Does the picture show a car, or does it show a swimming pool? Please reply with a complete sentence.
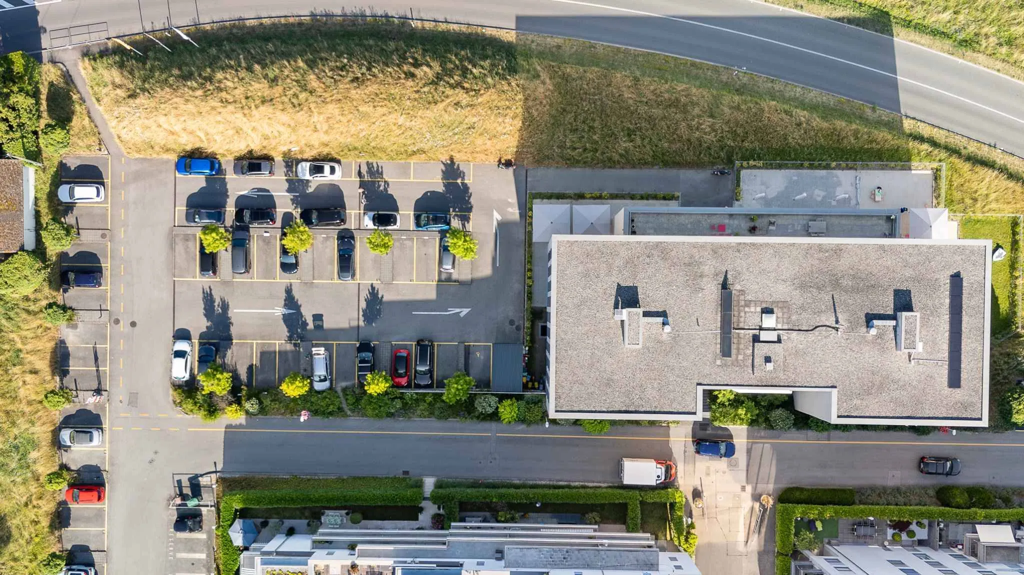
It is a car that can be seen here.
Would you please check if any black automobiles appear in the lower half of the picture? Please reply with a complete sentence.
Yes, there is a black automobile in the lower half of the picture.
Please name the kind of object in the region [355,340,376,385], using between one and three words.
car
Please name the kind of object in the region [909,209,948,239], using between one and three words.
umbrella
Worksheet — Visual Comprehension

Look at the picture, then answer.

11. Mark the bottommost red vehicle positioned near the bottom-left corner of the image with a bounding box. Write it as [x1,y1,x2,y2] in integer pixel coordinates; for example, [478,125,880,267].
[67,485,107,505]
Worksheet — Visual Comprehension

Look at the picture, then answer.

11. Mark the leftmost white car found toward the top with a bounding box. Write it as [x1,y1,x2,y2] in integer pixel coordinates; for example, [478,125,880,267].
[59,182,107,204]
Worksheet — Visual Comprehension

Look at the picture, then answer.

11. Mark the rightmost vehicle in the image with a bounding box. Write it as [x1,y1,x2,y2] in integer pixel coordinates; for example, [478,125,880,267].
[917,456,960,478]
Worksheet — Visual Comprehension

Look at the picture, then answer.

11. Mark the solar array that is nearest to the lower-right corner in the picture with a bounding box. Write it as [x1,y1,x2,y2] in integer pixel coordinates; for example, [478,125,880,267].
[949,277,962,388]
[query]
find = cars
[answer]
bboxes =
[176,515,203,534]
[171,339,194,382]
[364,210,401,230]
[335,231,356,279]
[438,235,456,274]
[355,340,376,385]
[236,207,278,227]
[67,485,107,505]
[196,342,218,382]
[233,229,253,275]
[197,238,219,277]
[917,456,960,478]
[414,211,452,232]
[279,239,300,274]
[234,157,277,178]
[60,428,104,449]
[298,160,343,181]
[301,206,347,228]
[413,341,434,385]
[693,439,734,460]
[177,155,221,177]
[63,269,105,289]
[59,182,107,204]
[390,349,411,387]
[310,348,331,391]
